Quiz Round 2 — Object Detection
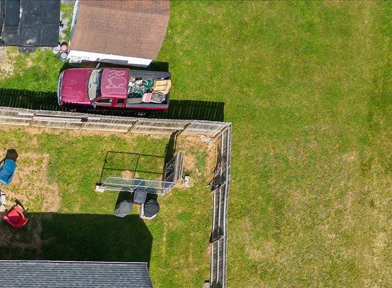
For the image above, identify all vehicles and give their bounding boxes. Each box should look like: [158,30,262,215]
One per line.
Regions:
[0,0,60,56]
[56,59,170,114]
